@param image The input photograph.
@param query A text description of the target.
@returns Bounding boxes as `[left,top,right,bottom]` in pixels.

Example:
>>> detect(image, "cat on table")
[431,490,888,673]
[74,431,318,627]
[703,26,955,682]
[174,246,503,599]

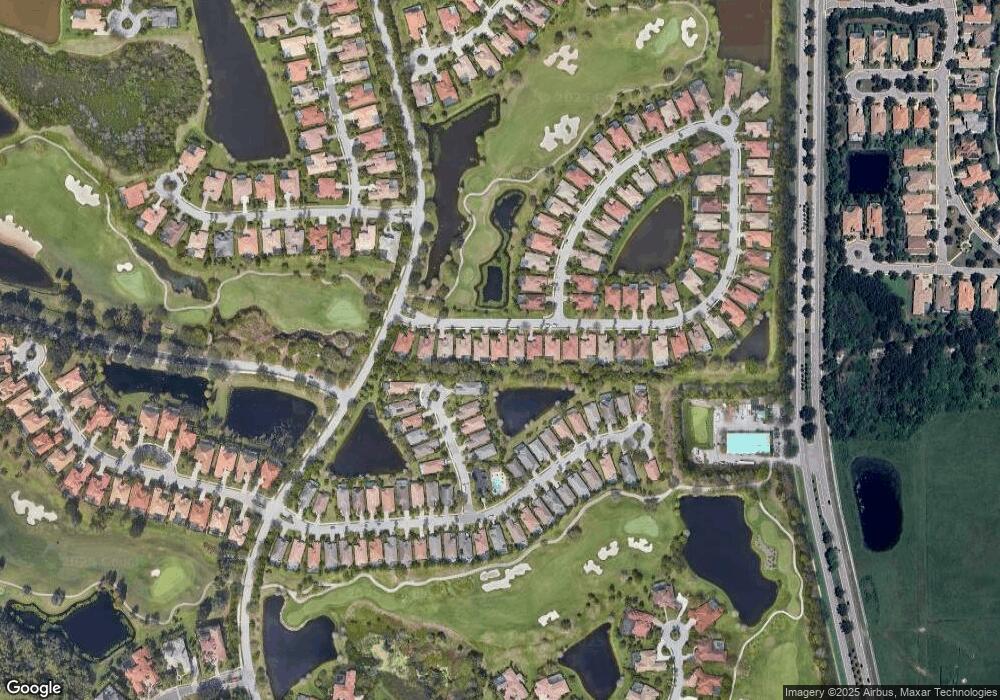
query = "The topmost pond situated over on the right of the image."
[716,0,776,74]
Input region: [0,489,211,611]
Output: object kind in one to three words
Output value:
golf course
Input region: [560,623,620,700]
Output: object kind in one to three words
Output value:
pond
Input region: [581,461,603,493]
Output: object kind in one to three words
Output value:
house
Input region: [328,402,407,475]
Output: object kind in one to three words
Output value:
pond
